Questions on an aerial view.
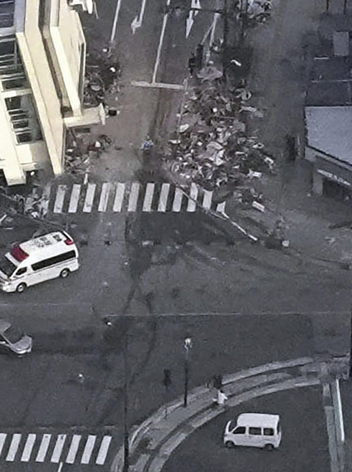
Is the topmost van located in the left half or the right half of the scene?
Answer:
left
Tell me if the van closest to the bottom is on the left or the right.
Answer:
right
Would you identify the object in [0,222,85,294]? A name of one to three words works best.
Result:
van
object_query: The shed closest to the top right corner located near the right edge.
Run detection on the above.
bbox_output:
[303,63,352,107]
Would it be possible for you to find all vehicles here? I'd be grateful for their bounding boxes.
[0,222,85,294]
[223,410,282,451]
[0,317,40,359]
